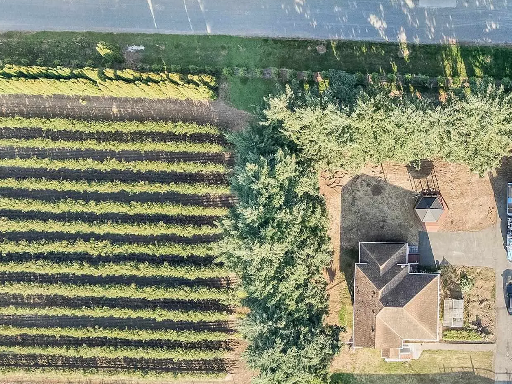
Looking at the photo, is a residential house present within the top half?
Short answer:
No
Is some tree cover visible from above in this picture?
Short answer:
Yes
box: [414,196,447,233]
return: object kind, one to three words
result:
gazebo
